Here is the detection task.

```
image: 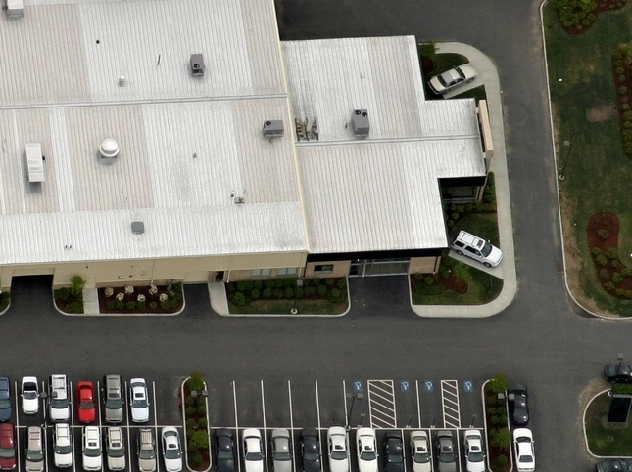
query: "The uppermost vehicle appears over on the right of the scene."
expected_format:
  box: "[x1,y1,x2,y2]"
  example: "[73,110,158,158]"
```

[426,65,480,96]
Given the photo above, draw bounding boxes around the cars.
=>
[449,230,502,268]
[130,377,151,423]
[102,374,126,423]
[271,429,294,472]
[0,375,14,422]
[464,429,487,472]
[137,426,158,472]
[213,428,237,472]
[241,428,265,472]
[512,426,536,472]
[326,426,350,472]
[0,423,19,471]
[24,425,47,472]
[602,365,632,385]
[106,425,127,471]
[383,431,405,472]
[82,424,104,471]
[19,375,41,414]
[76,381,98,423]
[426,65,480,96]
[300,428,324,472]
[410,430,433,472]
[435,430,458,472]
[49,374,71,422]
[53,422,74,468]
[355,428,380,472]
[161,426,183,472]
[507,383,530,425]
